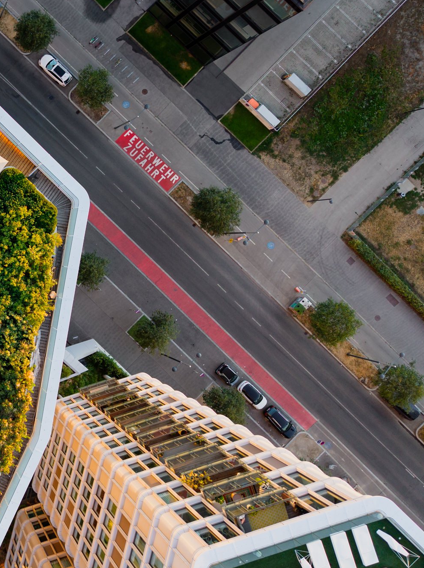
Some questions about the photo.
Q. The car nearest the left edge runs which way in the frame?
diagonally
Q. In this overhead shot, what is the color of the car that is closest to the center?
black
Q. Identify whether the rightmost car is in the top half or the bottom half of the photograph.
bottom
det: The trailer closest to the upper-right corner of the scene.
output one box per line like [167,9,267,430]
[275,69,317,104]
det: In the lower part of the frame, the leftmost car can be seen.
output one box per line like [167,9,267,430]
[210,359,241,388]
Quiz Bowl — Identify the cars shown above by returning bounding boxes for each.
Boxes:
[260,401,300,442]
[210,359,241,388]
[232,374,269,414]
[35,50,76,91]
[383,394,424,430]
